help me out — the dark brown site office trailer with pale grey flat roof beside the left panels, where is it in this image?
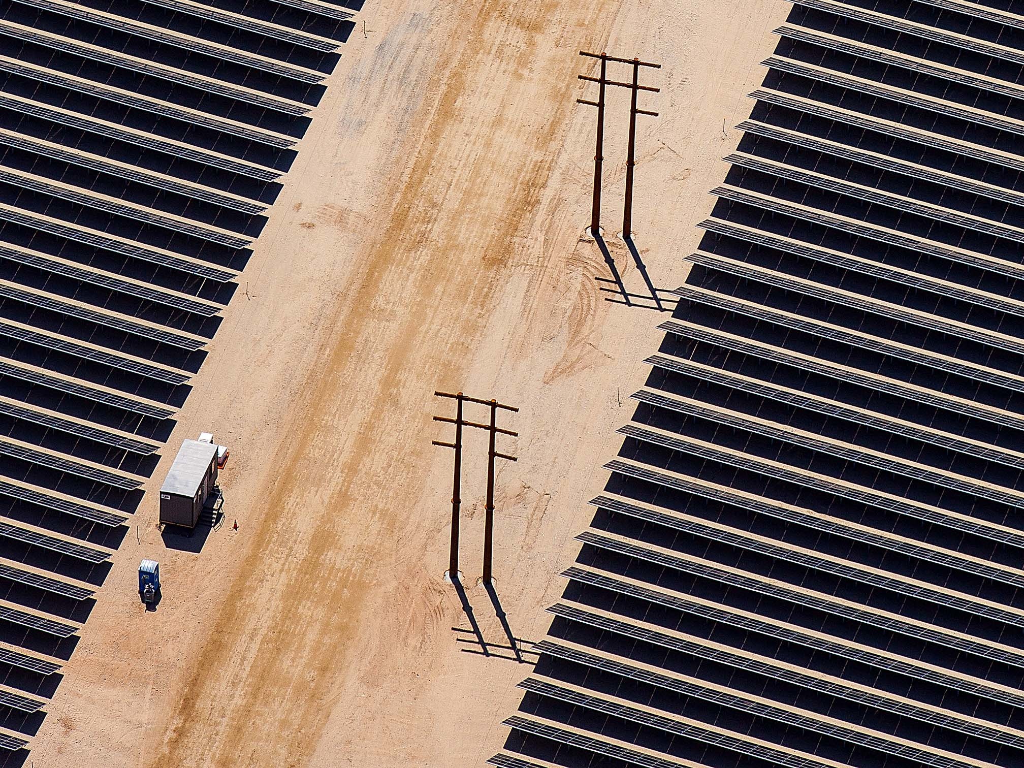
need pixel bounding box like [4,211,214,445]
[159,439,219,534]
